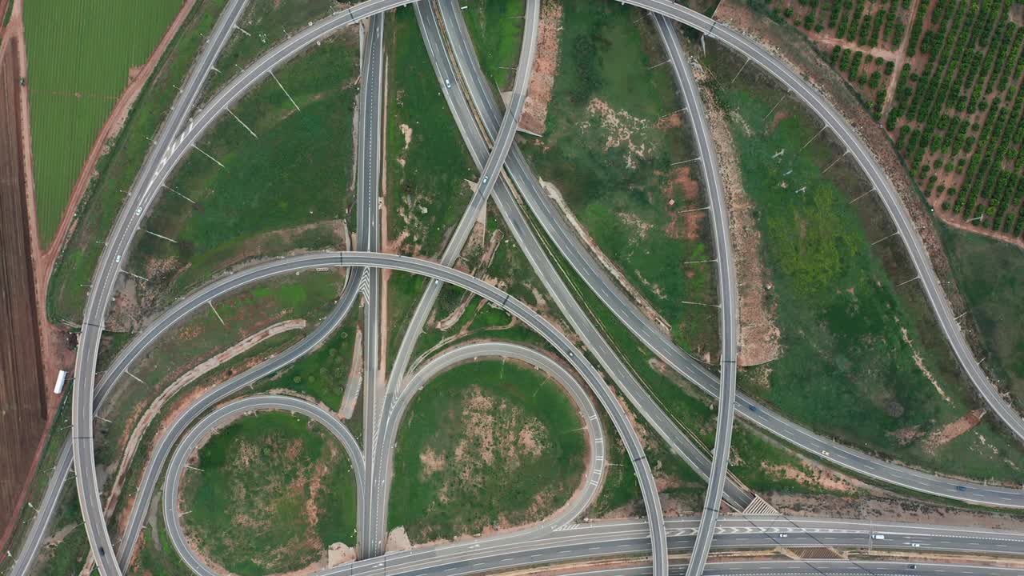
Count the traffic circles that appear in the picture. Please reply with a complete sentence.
The count of traffic circles is 0.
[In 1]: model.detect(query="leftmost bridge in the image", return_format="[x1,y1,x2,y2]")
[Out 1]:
[71,324,123,576]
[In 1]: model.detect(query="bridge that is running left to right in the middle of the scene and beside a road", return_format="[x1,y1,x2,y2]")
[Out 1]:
[339,251,514,309]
